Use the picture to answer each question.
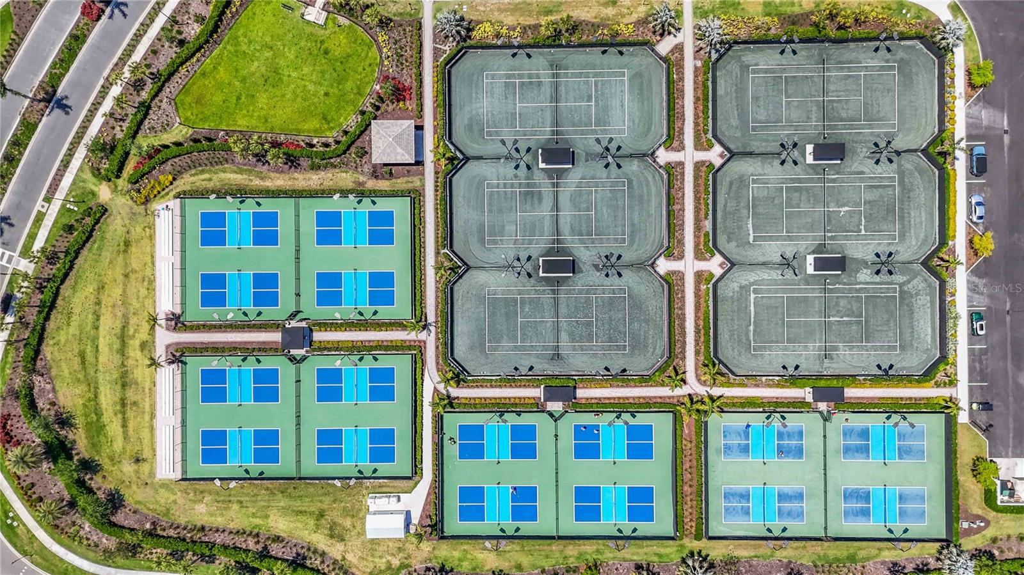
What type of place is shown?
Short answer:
sports ground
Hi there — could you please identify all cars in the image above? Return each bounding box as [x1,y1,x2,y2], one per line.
[970,146,988,175]
[969,194,986,223]
[972,312,987,336]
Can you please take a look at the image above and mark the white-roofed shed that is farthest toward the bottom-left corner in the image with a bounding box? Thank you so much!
[363,510,407,540]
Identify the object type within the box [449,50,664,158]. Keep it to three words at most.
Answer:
tennis court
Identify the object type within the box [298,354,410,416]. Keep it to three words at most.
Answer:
sports court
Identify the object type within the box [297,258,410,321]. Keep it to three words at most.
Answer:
sports court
